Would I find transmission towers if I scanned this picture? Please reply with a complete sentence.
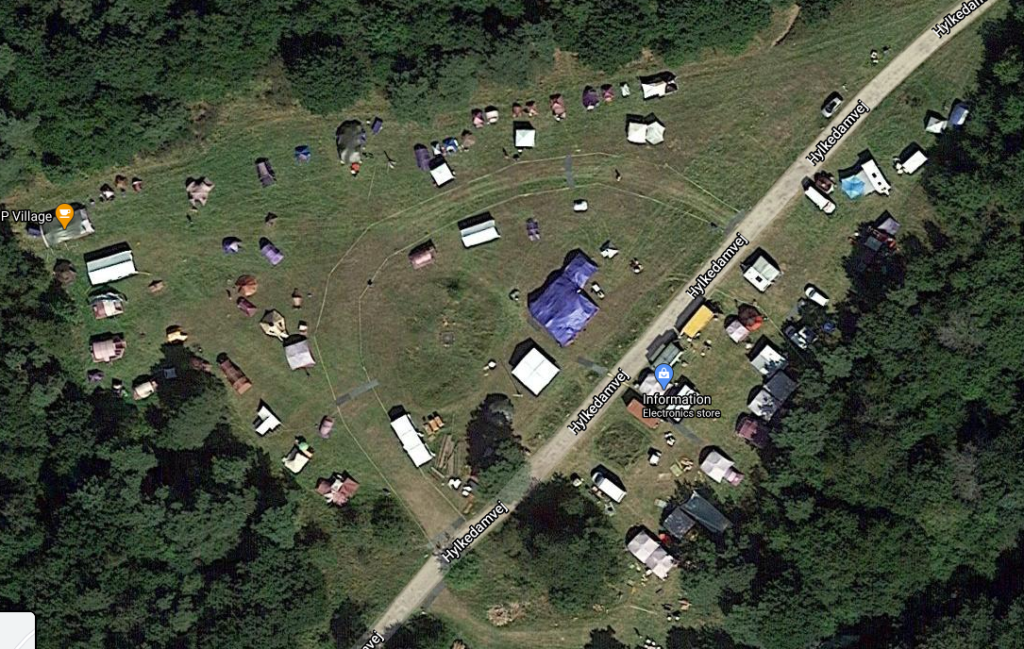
No, I find no transmission tower anywhere in the image.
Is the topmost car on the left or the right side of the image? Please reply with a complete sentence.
You can find the topmost car on the right side of the picture.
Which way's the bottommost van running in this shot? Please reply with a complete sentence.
Seen from above, the bottommost van lies on a diagonal.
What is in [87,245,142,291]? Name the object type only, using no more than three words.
tent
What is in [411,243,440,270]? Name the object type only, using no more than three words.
tent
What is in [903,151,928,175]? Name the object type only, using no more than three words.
camper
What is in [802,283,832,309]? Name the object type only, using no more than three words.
vehicle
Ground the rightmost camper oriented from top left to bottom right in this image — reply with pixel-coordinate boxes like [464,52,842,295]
[862,159,890,198]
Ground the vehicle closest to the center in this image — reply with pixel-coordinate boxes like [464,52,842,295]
[590,468,628,503]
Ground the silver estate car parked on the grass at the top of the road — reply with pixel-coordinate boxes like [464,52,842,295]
[822,91,843,117]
